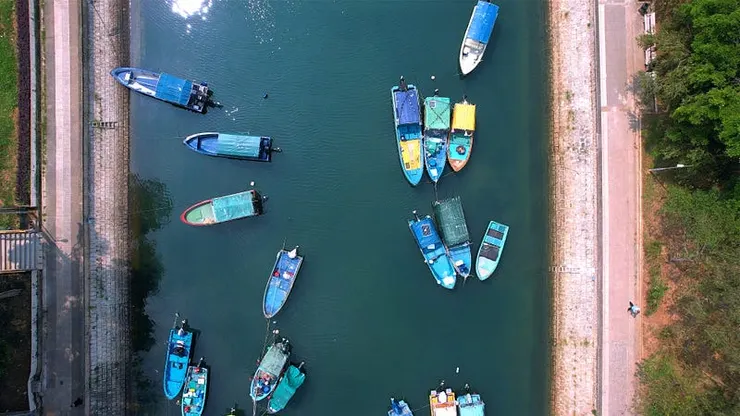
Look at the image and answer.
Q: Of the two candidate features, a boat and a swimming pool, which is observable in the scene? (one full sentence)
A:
Looking from above, you can make out a boat.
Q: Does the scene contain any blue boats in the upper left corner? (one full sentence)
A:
Yes, in the upper left corner there is a blue boat.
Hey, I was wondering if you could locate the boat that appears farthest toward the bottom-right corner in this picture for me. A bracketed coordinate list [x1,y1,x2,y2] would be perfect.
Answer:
[457,386,484,416]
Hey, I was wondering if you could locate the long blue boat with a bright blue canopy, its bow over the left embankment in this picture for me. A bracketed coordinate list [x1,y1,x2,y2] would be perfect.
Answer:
[111,71,223,110]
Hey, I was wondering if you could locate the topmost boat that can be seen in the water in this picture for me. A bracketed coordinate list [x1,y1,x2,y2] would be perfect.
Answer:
[460,0,501,77]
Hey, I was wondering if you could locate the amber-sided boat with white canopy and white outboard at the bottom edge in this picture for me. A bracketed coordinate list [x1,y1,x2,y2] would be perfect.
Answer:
[430,379,457,416]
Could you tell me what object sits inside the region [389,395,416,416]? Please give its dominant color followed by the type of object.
blue boat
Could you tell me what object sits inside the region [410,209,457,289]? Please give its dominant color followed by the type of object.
blue boat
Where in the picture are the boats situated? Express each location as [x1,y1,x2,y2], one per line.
[392,78,424,186]
[447,97,475,172]
[184,134,284,160]
[460,0,501,77]
[264,249,302,317]
[430,379,457,416]
[389,395,416,416]
[457,386,484,416]
[165,313,192,399]
[410,209,457,289]
[111,71,223,110]
[477,221,509,281]
[185,358,209,416]
[181,190,267,224]
[270,360,307,413]
[424,89,450,182]
[248,338,293,402]
[433,194,472,278]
